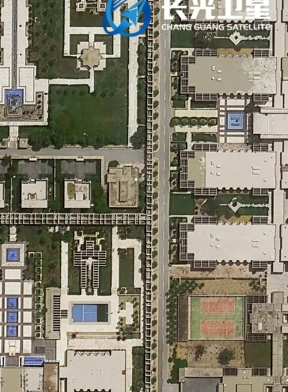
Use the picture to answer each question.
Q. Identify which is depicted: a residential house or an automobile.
residential house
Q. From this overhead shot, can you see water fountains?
Yes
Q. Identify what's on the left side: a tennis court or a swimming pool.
swimming pool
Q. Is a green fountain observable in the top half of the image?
No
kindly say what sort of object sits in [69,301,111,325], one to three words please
swimming pool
